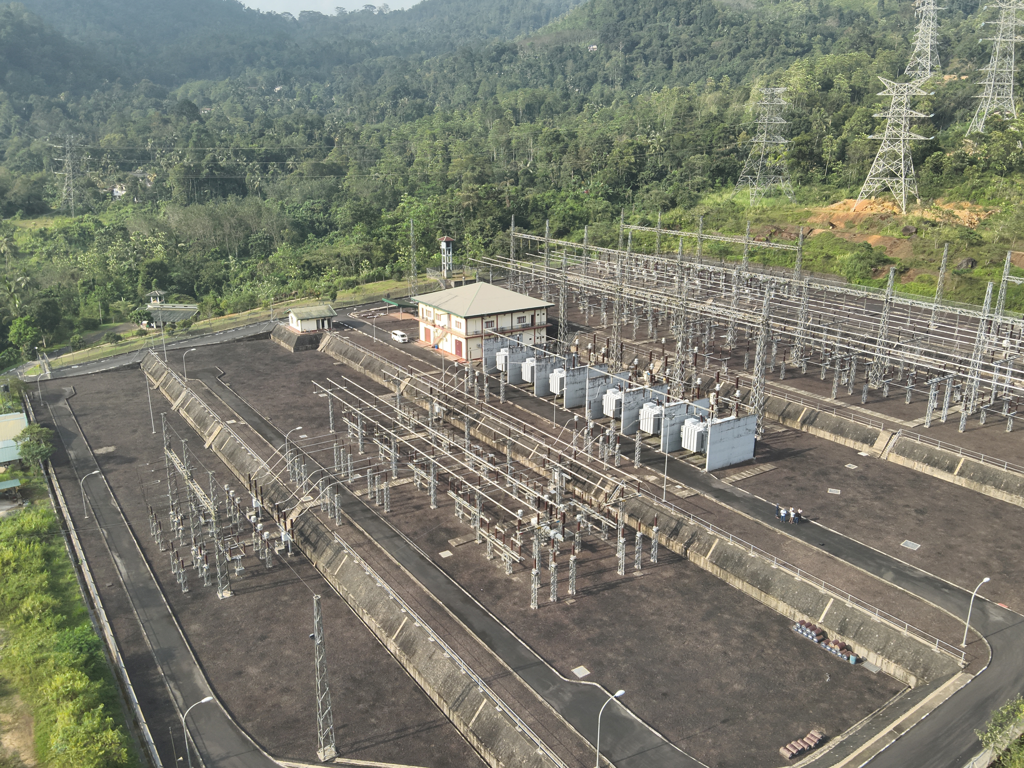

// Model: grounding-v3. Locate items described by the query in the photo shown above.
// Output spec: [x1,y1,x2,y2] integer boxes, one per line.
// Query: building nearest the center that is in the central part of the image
[411,282,561,363]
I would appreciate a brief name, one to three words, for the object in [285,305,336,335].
building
